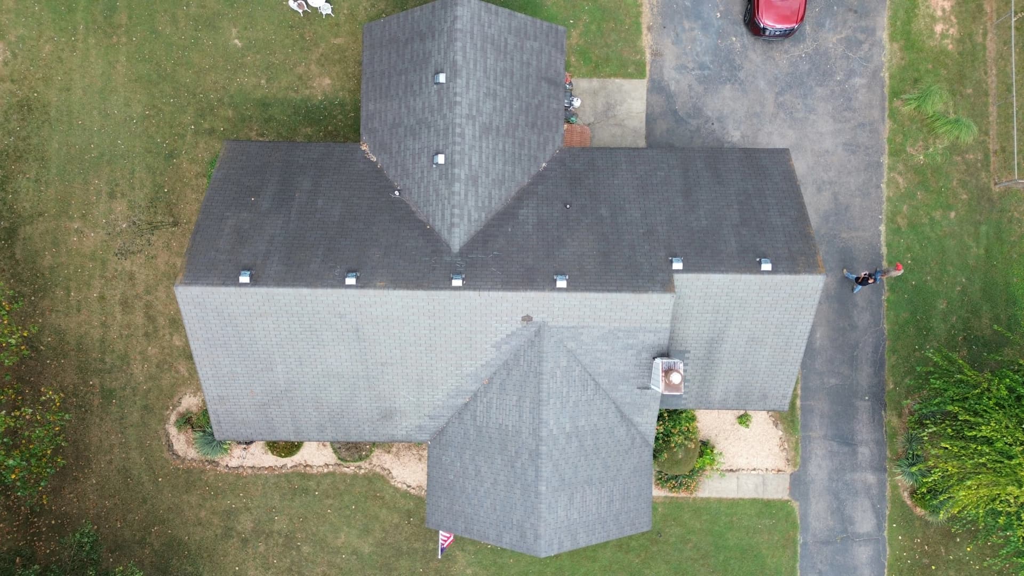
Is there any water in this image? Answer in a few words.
No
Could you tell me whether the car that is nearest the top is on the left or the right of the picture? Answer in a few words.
right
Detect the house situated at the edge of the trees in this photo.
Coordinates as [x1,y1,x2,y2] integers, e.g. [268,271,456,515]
[175,0,825,557]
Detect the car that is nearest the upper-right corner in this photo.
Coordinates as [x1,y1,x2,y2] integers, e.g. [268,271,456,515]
[745,0,803,38]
